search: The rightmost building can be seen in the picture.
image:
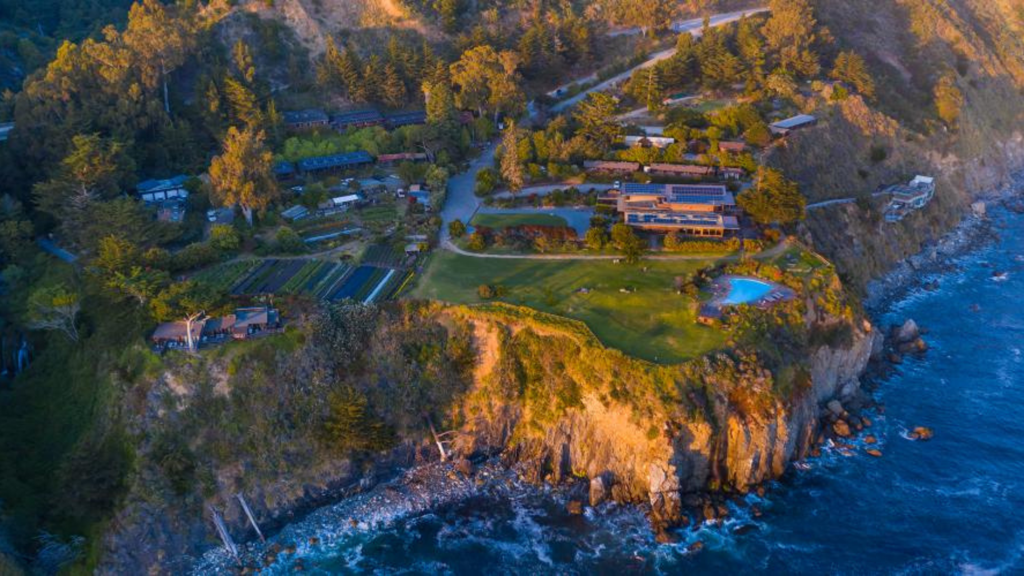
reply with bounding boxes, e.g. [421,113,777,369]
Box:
[881,175,937,228]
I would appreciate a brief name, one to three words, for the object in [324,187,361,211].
greenhouse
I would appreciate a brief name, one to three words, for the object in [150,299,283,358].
house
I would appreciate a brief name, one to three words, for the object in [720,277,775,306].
swimming pool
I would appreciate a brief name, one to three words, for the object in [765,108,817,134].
house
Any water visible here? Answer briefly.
Yes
